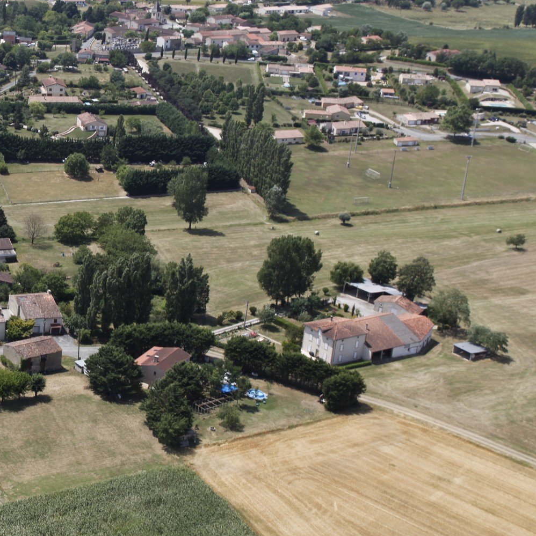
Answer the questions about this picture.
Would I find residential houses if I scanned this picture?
Yes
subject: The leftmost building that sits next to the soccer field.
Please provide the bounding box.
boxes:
[265,127,304,144]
